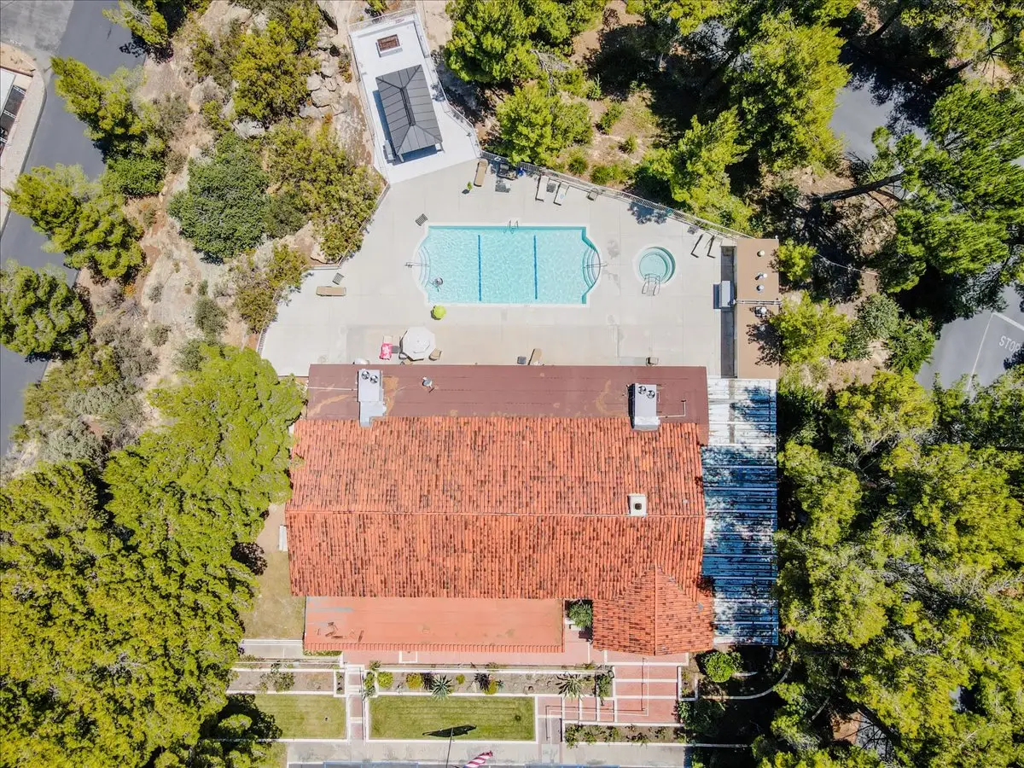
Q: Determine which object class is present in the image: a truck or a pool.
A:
pool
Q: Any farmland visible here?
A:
No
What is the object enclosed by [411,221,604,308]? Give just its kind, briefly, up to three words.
swimming pool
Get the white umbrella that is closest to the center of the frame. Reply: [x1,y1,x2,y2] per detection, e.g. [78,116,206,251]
[398,326,431,360]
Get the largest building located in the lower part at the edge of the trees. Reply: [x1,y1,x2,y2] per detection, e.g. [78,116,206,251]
[284,365,715,659]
